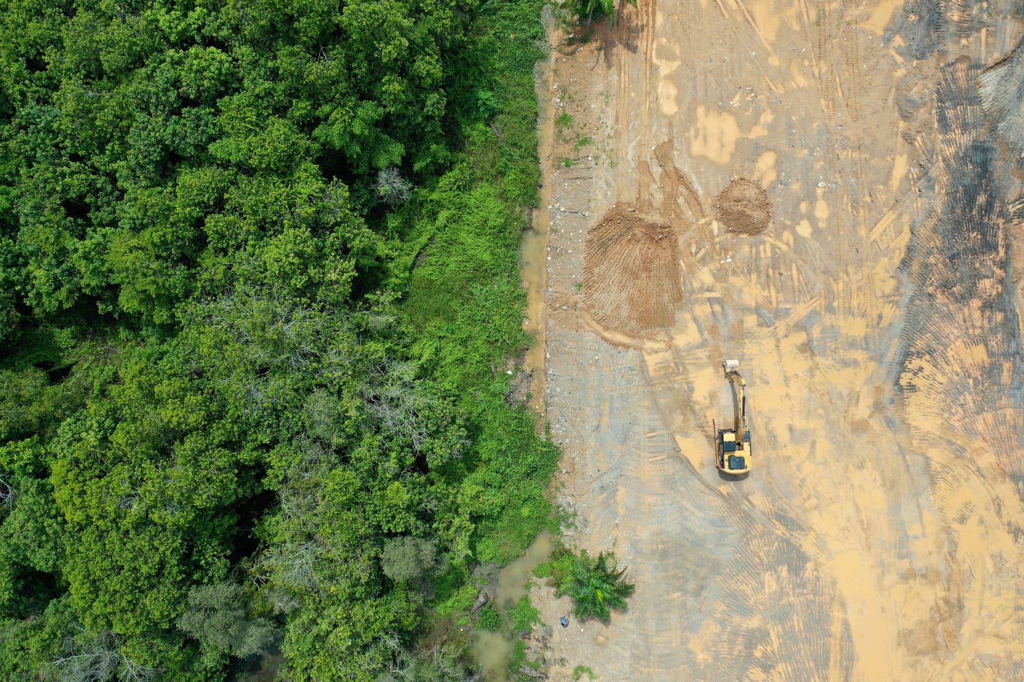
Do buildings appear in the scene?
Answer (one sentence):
No, there is no building in the image.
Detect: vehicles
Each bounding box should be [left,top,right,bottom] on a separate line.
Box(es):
[710,359,755,477]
